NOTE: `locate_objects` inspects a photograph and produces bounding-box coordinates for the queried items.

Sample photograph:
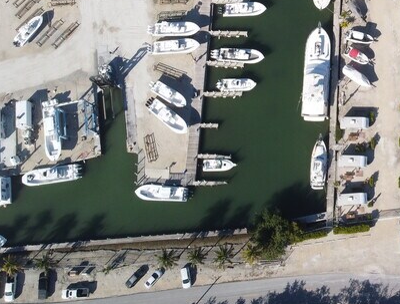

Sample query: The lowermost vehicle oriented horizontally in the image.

[62,286,91,298]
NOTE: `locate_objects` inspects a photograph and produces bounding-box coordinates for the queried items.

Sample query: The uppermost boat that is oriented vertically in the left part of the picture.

[35,101,61,161]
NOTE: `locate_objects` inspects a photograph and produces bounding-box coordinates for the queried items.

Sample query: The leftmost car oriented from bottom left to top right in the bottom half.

[126,265,149,288]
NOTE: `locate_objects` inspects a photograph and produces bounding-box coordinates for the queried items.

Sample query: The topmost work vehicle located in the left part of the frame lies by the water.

[92,60,118,111]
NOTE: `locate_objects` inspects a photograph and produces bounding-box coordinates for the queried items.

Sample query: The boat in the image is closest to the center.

[199,159,239,171]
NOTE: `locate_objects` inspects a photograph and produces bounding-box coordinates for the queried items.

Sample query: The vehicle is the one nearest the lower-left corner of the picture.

[3,275,18,301]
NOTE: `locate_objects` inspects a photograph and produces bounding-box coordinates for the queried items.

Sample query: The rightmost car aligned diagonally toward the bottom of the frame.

[145,266,166,289]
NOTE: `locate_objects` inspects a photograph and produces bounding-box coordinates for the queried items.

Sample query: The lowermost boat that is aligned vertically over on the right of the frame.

[305,133,328,191]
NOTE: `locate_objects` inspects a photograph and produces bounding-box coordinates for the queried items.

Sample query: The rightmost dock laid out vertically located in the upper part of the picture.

[185,0,214,179]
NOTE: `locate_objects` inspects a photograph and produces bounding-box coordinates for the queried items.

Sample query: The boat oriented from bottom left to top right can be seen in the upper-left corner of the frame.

[13,16,44,46]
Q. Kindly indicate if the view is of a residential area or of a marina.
marina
